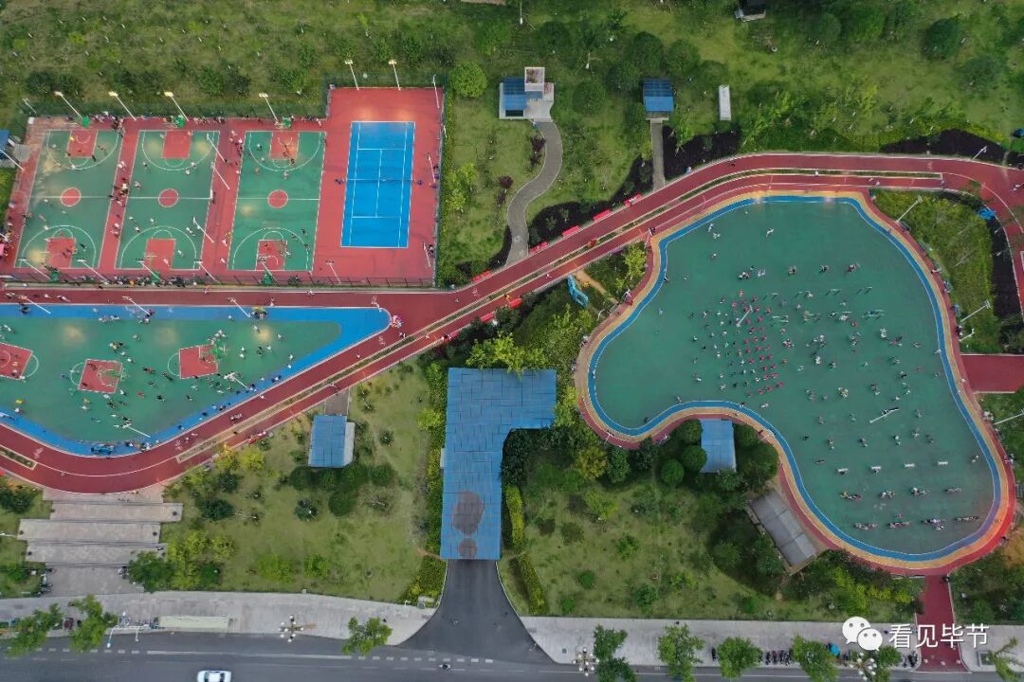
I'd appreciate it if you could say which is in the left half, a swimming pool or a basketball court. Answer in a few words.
basketball court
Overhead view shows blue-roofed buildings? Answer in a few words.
Yes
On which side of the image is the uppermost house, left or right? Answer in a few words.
right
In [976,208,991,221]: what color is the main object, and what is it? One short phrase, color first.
blue umbrella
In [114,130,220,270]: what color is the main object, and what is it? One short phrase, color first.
green basketball court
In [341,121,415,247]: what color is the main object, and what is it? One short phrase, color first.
blue tennis court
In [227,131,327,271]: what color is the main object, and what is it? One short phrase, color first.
green basketball court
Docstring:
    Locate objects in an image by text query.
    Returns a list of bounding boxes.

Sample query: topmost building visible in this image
[736,0,765,29]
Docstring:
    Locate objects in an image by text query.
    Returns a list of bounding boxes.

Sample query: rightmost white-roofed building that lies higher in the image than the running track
[715,86,731,128]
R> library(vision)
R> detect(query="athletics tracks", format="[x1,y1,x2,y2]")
[0,152,1024,495]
